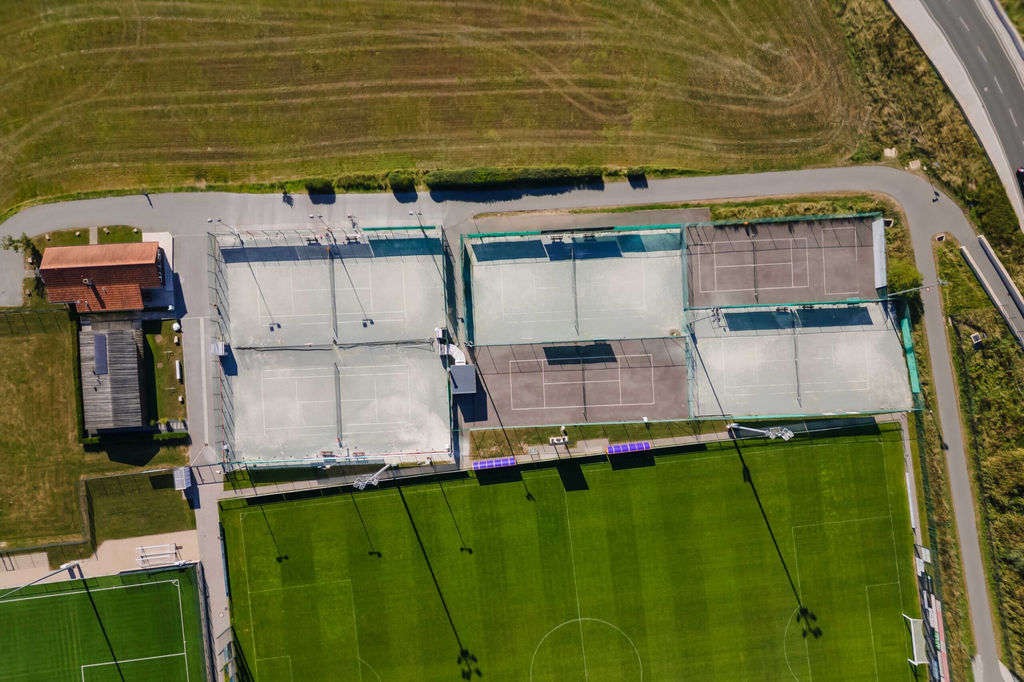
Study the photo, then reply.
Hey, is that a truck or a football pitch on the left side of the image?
football pitch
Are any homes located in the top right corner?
No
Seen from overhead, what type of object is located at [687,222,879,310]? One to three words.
tennis court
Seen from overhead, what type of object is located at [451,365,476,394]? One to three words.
shed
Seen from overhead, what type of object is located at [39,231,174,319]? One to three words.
house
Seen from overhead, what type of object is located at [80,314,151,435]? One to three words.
shed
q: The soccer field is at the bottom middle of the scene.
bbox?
[218,422,929,682]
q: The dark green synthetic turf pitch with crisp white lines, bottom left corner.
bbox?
[0,566,207,682]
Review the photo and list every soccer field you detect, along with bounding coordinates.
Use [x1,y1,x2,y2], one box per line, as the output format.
[0,566,207,682]
[218,422,929,682]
